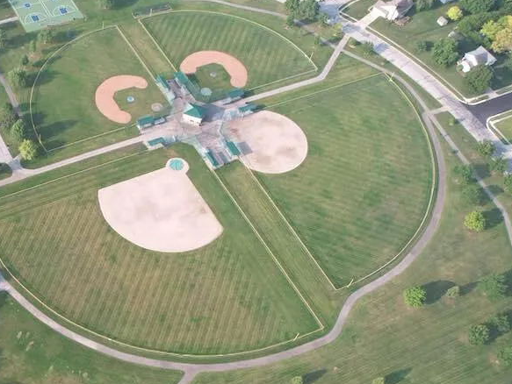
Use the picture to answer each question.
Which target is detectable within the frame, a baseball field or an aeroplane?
baseball field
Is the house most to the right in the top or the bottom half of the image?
top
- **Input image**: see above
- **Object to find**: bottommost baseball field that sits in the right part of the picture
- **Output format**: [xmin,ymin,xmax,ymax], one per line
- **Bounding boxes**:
[220,72,435,289]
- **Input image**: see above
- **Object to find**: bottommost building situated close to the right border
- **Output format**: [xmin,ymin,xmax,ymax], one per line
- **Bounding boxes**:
[449,46,493,77]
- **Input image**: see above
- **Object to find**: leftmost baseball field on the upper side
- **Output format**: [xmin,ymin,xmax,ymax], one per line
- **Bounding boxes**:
[33,25,174,151]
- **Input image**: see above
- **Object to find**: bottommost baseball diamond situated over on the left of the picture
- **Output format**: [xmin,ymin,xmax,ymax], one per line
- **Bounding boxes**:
[0,135,320,356]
